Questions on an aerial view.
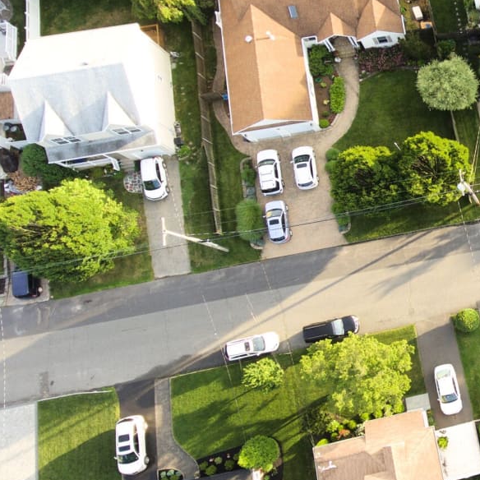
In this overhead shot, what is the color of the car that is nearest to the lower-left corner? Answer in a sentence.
The color of the car that is nearest to the lower-left corner is white.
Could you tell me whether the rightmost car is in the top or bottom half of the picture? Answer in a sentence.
The rightmost car is in the bottom half of the image.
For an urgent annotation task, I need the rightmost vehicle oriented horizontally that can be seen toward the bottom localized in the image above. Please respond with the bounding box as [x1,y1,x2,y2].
[301,315,362,346]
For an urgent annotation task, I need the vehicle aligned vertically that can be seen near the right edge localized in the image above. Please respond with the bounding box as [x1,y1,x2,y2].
[434,363,462,417]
